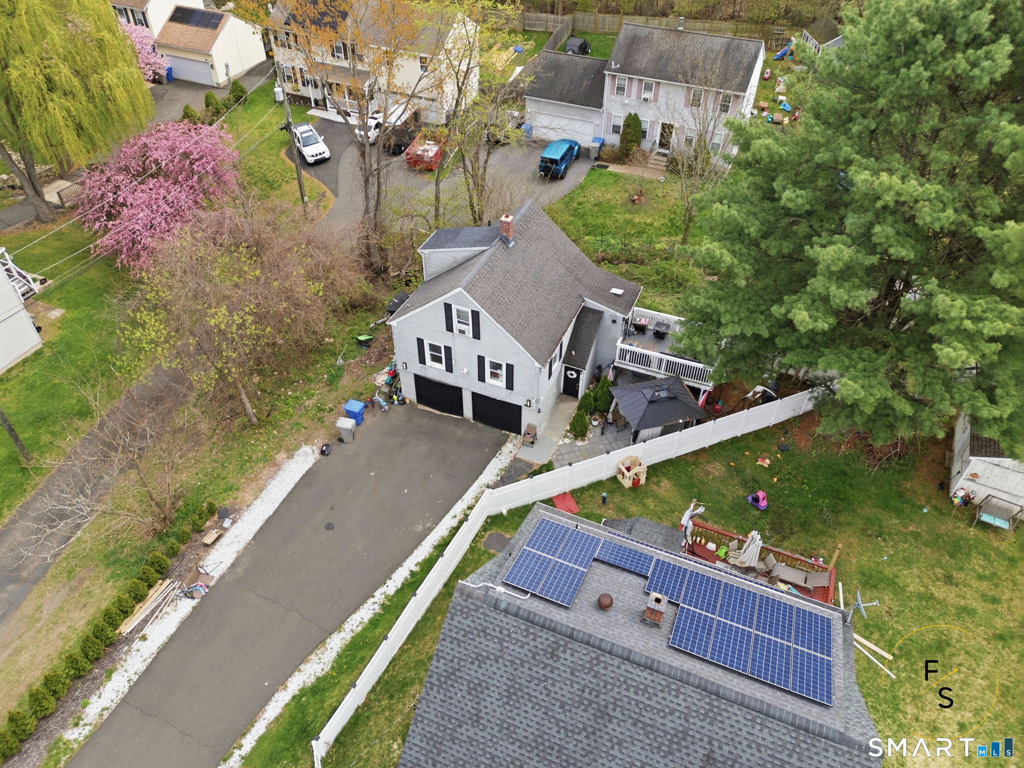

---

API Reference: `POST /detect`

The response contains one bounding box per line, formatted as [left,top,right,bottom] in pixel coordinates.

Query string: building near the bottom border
[401,499,872,768]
